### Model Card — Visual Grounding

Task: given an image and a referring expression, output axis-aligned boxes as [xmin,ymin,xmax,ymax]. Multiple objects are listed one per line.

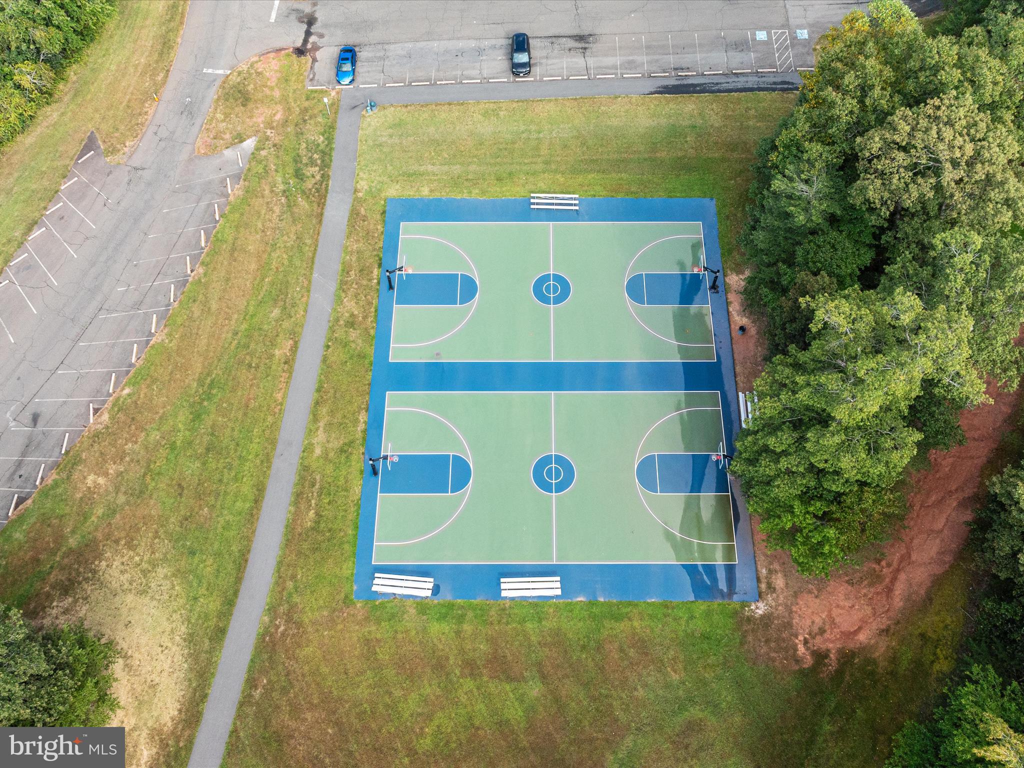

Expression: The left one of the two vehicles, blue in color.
[336,49,357,84]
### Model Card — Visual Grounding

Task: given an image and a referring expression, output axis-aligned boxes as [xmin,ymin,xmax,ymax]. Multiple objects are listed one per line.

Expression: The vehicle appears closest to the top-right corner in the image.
[511,33,531,75]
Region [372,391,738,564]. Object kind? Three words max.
basketball court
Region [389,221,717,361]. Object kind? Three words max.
basketball court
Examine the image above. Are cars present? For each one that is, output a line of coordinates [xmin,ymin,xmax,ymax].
[336,49,357,84]
[511,33,531,75]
